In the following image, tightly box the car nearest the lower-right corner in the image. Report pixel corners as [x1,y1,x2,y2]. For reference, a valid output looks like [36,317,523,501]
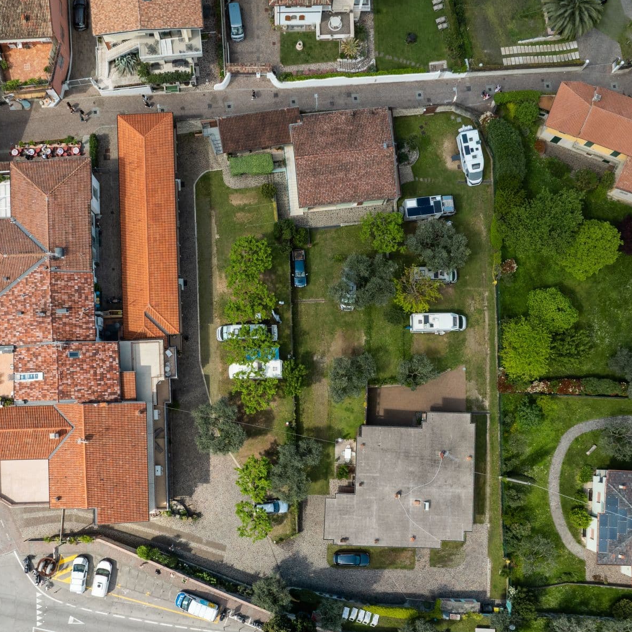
[333,549,369,567]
